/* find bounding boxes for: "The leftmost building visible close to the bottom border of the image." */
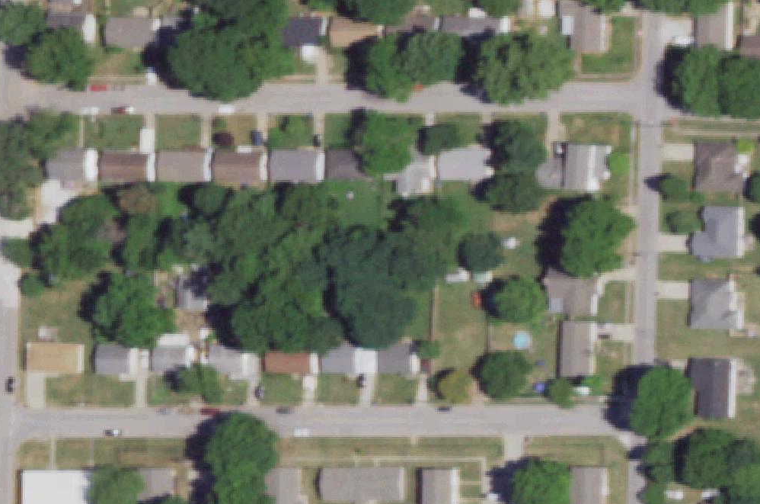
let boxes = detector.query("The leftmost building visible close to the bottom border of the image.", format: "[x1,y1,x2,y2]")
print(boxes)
[19,471,94,504]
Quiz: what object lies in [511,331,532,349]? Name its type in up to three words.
swimming pool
